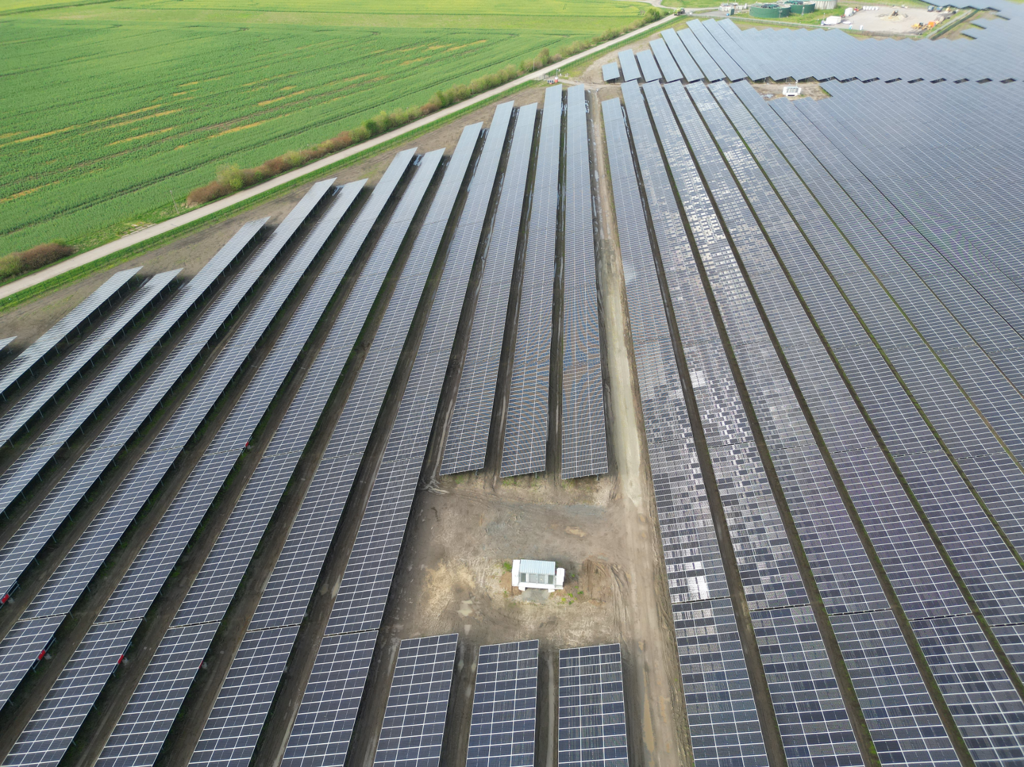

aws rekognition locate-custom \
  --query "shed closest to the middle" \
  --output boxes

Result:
[512,557,564,601]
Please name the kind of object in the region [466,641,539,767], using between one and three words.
solar array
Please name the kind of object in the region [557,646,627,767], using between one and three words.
solar array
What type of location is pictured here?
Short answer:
solar farm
